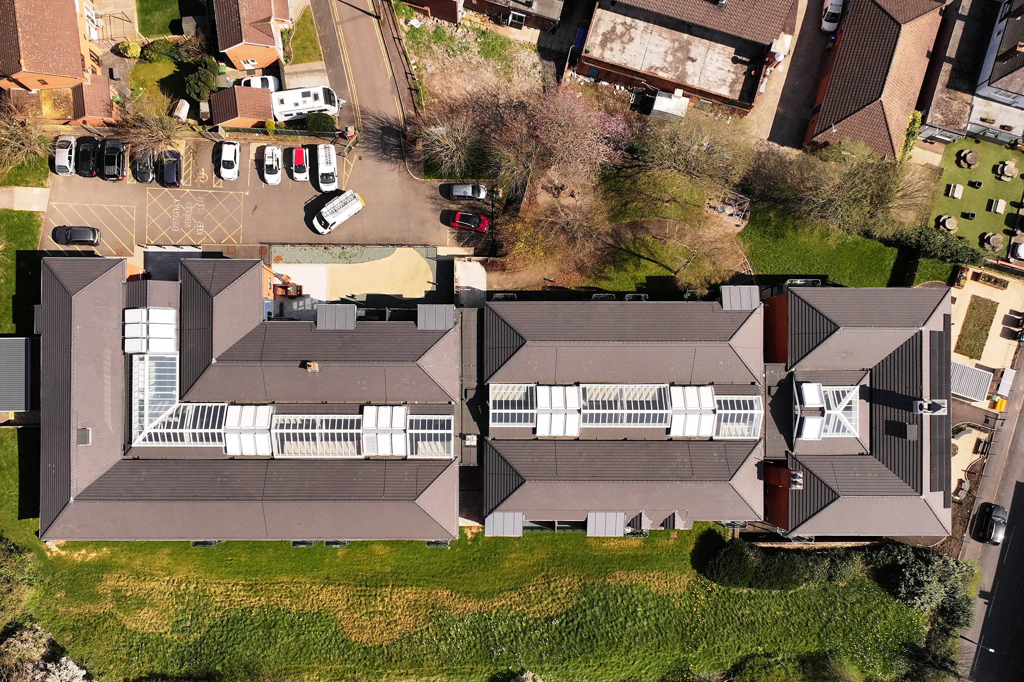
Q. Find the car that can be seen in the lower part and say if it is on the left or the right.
right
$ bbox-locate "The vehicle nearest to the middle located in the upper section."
[449,209,492,235]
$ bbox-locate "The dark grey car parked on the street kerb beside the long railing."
[977,500,1010,547]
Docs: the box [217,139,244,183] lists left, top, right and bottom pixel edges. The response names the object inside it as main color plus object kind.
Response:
white car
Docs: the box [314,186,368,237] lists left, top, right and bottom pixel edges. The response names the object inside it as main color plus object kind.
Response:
white van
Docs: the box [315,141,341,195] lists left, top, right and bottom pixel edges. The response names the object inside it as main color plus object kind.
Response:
white vehicle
